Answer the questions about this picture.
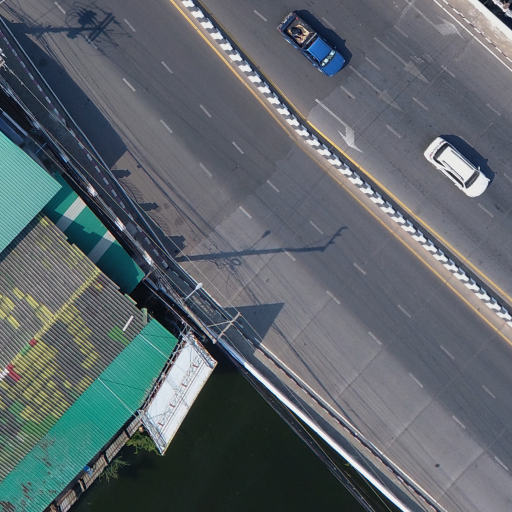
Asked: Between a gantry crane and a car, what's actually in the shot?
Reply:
car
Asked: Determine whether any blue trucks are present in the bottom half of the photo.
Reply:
No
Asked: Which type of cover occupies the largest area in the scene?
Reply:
paved ground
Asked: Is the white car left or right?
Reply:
right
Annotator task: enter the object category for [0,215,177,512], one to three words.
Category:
building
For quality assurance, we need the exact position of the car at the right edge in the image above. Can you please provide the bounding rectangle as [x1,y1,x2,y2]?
[422,137,488,196]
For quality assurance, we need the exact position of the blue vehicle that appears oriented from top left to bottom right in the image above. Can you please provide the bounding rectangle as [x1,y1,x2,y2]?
[275,12,344,75]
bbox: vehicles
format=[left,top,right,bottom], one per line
[275,12,344,75]
[422,137,488,196]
